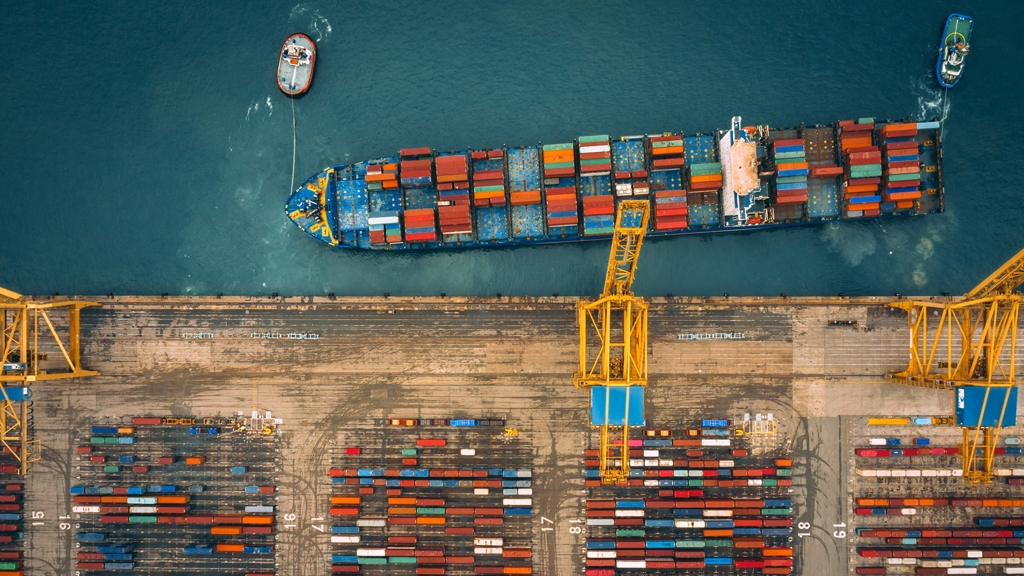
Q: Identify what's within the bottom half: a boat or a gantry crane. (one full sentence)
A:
Looking within the bottom half, you will find a gantry crane.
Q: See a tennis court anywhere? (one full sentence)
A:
No, this view has no tennis court in it.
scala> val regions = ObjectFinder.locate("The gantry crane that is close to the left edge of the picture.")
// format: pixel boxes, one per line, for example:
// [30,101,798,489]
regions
[0,276,114,487]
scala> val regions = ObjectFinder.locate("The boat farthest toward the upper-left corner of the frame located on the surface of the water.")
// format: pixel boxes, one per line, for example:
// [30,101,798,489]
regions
[276,33,319,97]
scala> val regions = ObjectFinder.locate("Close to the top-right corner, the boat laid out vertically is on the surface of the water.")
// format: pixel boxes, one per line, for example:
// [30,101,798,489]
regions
[936,11,975,92]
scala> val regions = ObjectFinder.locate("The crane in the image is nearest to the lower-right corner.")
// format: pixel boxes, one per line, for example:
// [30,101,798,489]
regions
[880,244,1024,487]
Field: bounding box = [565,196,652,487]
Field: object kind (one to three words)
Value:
container crane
